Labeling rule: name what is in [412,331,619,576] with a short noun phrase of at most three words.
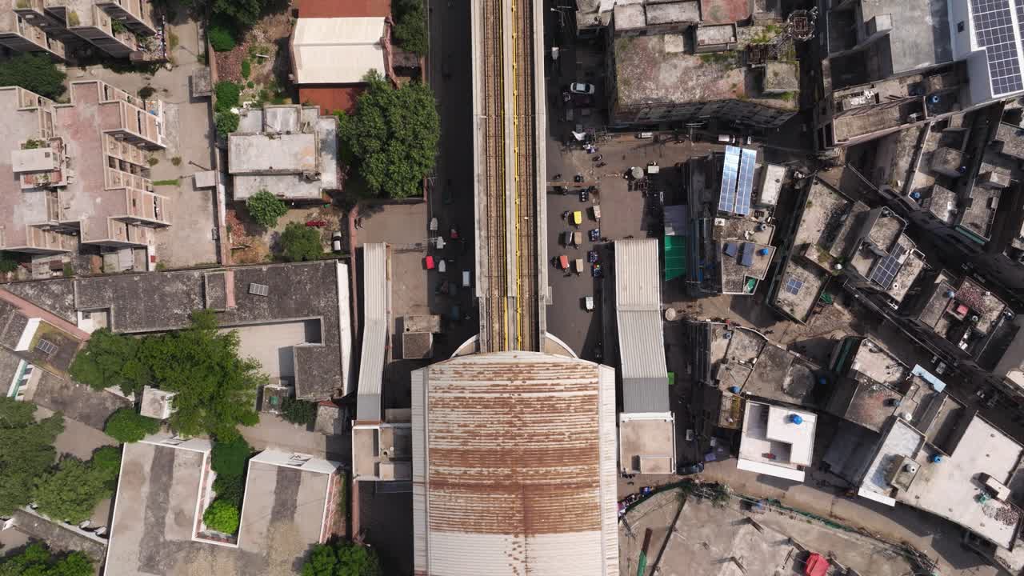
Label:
train station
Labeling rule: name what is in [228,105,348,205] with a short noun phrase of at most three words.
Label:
house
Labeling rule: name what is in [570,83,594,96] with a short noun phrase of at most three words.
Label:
vehicle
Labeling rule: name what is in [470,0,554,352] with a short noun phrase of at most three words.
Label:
bridge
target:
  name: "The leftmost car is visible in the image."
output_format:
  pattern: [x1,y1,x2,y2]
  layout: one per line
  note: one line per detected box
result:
[331,230,344,252]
